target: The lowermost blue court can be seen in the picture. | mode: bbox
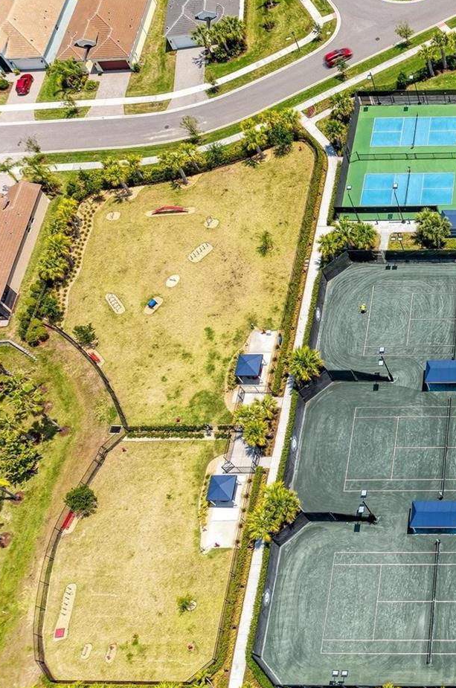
[334,159,456,218]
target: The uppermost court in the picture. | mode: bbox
[348,105,456,160]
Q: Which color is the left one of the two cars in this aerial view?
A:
red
